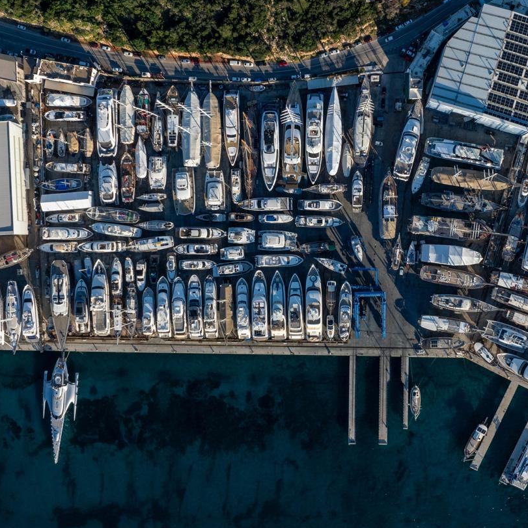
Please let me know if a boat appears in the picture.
Yes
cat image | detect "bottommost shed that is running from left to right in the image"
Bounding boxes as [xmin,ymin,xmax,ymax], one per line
[40,190,97,213]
